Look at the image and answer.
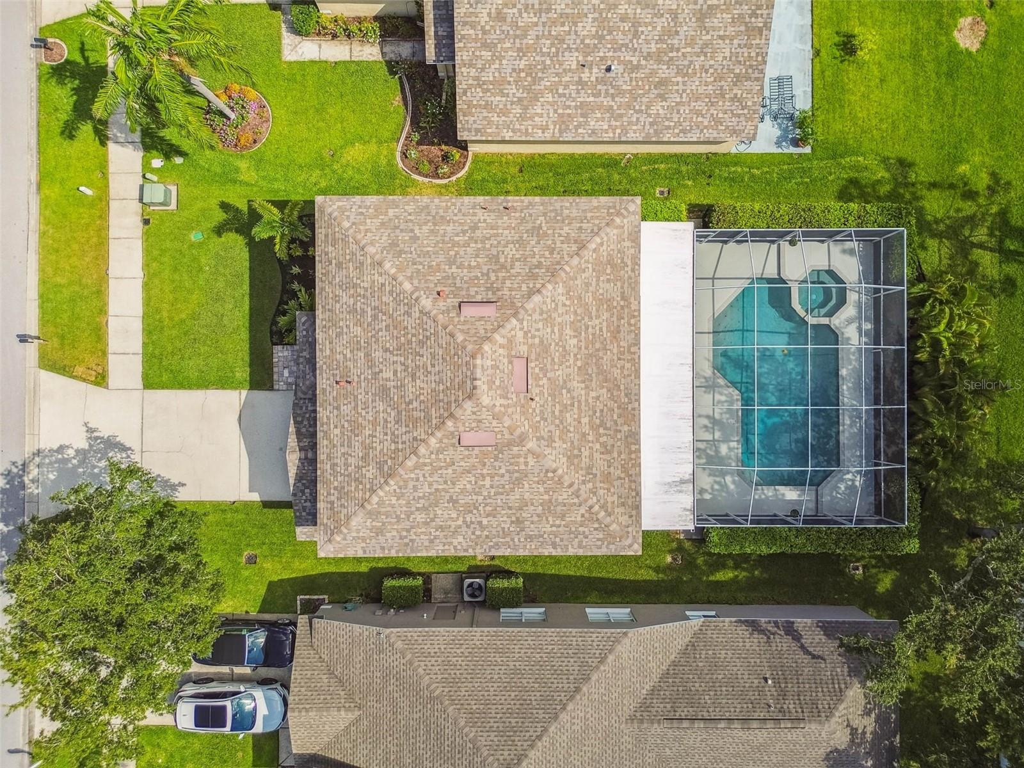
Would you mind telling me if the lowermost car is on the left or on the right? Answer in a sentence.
You can find the lowermost car on the left side of the picture.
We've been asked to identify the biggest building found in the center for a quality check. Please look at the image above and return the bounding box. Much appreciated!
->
[286,196,697,556]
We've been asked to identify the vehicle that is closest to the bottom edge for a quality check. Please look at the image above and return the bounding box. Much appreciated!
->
[174,675,289,735]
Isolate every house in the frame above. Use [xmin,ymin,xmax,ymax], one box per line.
[289,600,899,768]
[307,0,774,153]
[286,196,697,556]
